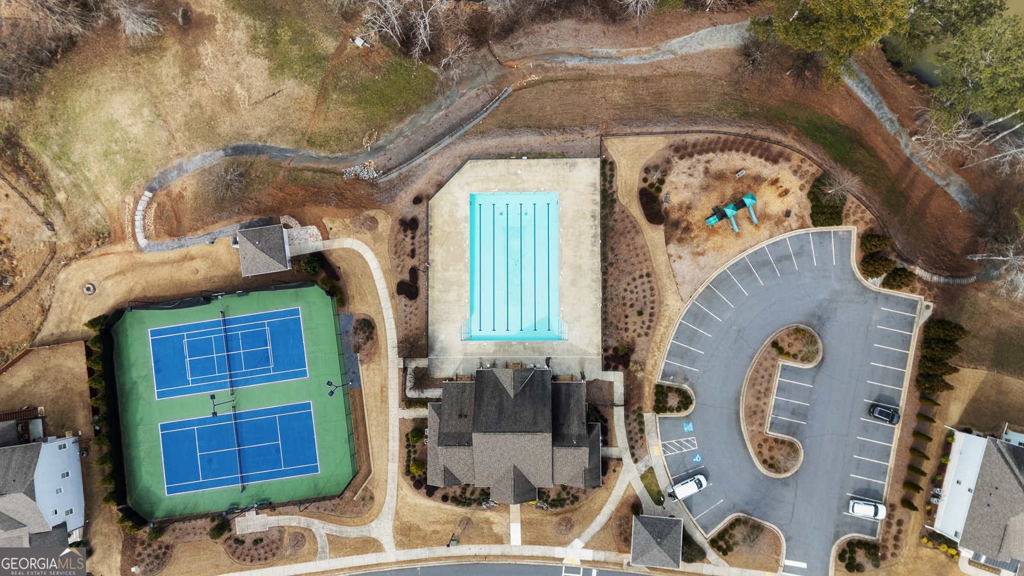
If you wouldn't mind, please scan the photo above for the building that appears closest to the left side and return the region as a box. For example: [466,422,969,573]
[0,406,84,576]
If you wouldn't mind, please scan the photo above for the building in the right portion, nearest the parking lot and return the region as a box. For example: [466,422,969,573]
[629,510,684,569]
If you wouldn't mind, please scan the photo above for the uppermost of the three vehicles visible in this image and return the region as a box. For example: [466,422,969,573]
[866,404,899,422]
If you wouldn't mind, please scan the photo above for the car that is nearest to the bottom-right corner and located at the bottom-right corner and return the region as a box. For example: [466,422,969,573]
[847,499,884,519]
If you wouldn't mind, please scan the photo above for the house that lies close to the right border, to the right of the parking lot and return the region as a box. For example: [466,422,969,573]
[934,422,1024,575]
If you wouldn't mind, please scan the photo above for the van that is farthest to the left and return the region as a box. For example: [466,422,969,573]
[668,475,707,504]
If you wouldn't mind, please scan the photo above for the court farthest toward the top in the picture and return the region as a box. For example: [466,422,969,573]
[149,307,308,400]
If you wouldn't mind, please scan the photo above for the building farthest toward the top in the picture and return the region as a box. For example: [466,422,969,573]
[226,224,296,277]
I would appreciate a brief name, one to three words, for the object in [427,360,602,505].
building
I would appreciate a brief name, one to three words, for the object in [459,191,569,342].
swimming pool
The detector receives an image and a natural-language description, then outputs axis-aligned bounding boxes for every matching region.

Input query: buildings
[427,360,602,505]
[629,510,684,569]
[226,224,296,277]
[0,406,84,576]
[934,422,1024,575]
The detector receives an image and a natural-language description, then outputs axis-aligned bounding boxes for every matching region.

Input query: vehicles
[668,475,707,504]
[847,499,884,519]
[866,404,899,422]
